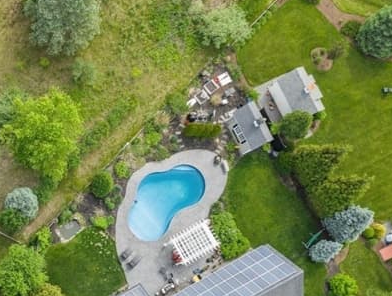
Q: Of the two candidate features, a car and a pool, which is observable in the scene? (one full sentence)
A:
This aerial view contains a pool.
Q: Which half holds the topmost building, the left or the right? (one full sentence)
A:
The topmost building is on the right side of the image.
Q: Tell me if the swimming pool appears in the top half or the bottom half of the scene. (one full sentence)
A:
It is in the bottom half that the swimming pool appears.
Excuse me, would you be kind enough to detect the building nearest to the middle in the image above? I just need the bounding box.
[224,102,274,155]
